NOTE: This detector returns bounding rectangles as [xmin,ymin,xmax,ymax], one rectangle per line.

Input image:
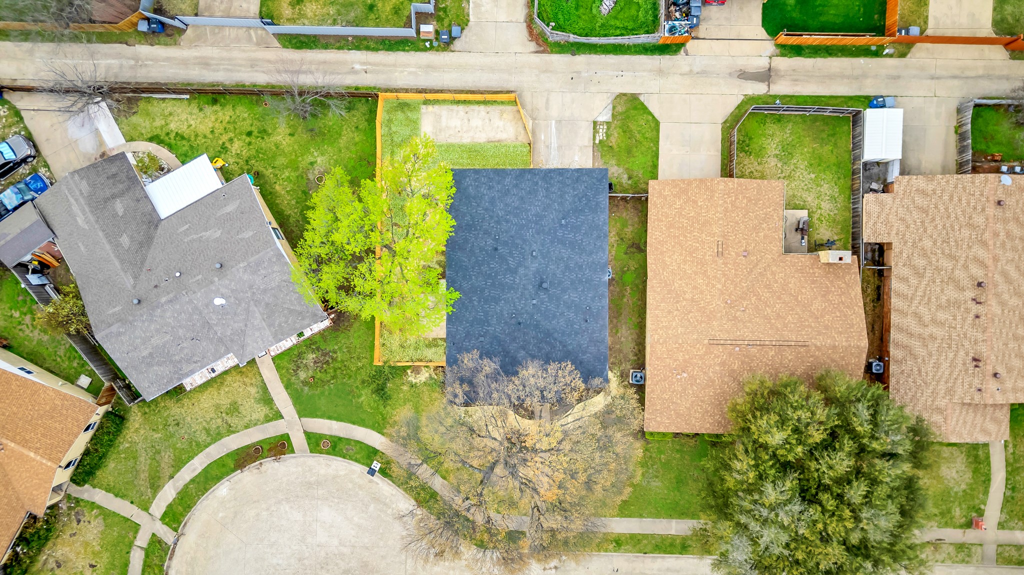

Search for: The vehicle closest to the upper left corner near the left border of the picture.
[0,134,41,181]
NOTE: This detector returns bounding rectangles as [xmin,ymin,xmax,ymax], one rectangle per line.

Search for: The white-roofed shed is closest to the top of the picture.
[851,108,904,164]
